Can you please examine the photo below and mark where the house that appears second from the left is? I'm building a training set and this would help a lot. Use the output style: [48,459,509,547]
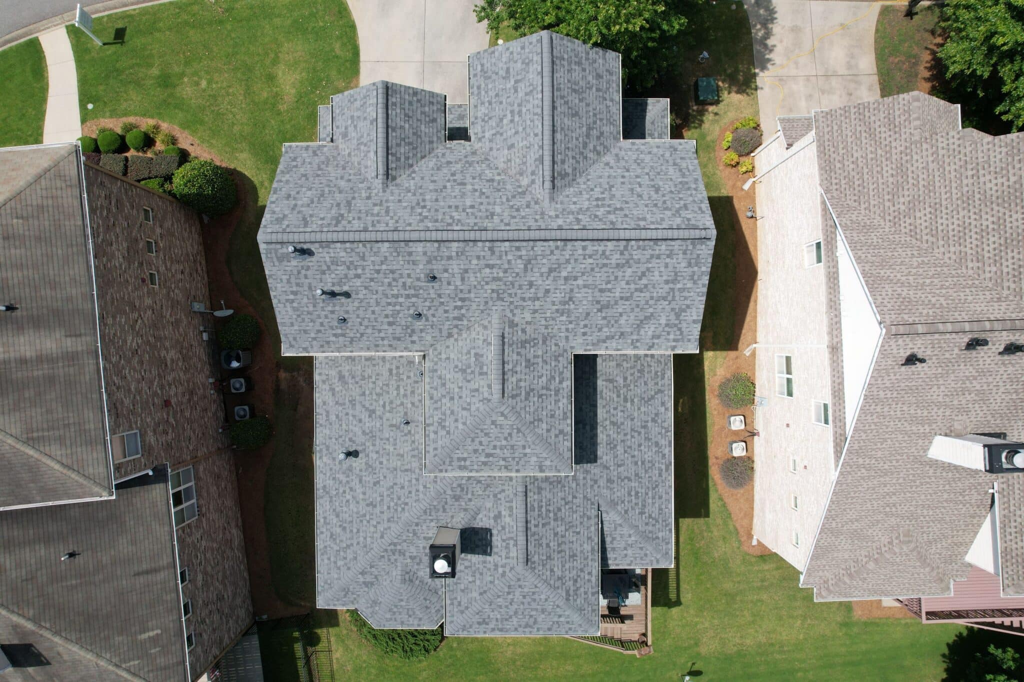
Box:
[258,31,716,635]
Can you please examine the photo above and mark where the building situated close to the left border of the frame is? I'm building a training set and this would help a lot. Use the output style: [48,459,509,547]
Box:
[0,142,255,682]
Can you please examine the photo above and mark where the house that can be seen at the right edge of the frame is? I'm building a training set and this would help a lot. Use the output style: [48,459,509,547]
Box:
[743,91,1024,603]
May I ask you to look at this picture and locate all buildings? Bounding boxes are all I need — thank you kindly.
[0,142,255,682]
[743,91,1024,603]
[258,31,716,635]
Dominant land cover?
buildings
